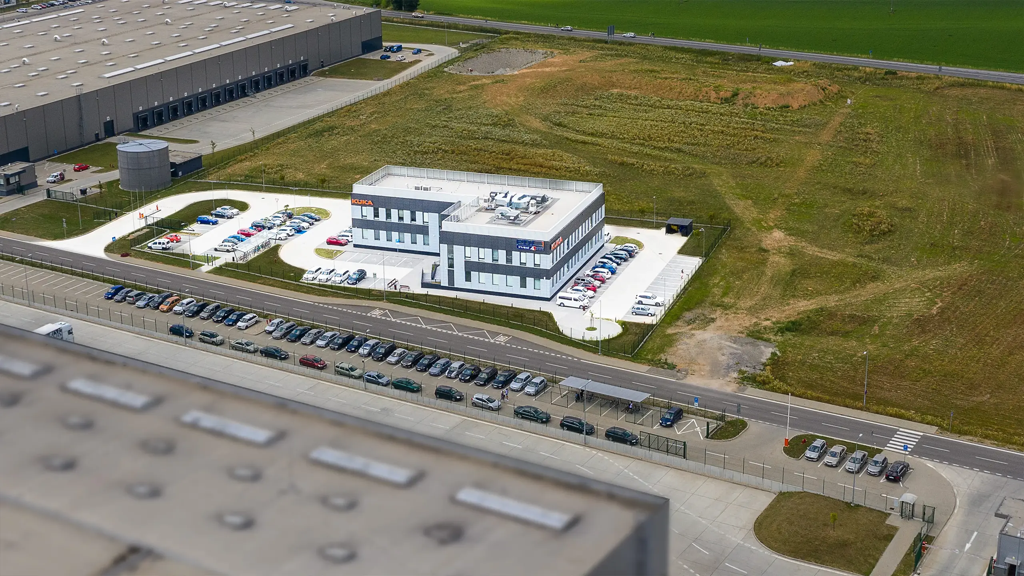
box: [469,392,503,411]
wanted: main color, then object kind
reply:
gray car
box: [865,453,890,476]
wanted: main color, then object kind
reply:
gray car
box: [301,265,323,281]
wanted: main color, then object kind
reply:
white car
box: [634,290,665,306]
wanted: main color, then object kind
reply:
white car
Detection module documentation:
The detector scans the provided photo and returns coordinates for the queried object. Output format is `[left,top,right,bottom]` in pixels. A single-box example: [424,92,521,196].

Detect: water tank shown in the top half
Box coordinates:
[117,134,175,192]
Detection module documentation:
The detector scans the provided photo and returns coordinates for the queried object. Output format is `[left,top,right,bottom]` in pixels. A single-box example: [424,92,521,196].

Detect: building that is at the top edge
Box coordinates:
[0,0,405,166]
